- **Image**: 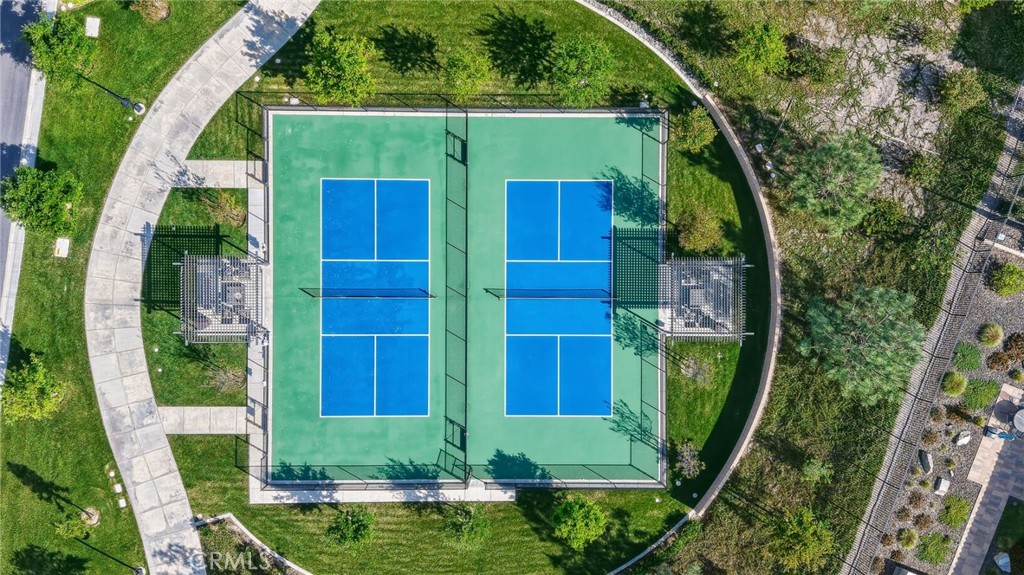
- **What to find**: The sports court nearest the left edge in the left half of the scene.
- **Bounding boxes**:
[273,114,466,480]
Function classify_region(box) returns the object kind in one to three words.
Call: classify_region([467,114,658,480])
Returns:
sports court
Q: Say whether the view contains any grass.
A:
Yes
